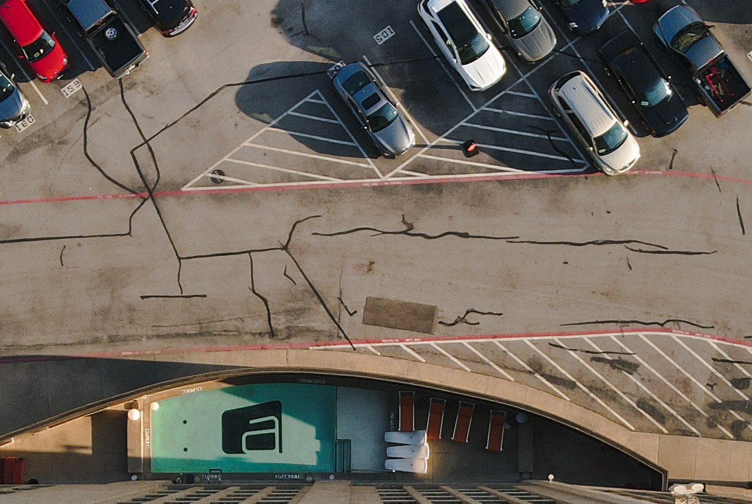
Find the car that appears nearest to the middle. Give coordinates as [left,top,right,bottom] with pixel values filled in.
[331,59,414,163]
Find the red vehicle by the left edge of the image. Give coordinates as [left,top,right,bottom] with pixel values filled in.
[0,0,70,88]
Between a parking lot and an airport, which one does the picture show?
parking lot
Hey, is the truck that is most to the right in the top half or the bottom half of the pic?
top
